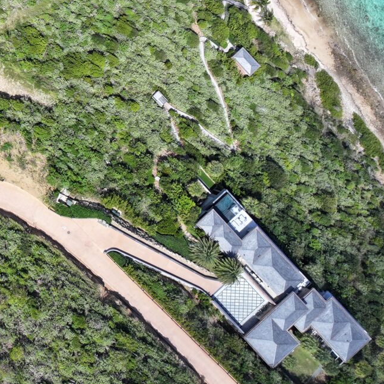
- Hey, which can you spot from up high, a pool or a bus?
pool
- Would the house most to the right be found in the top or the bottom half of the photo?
bottom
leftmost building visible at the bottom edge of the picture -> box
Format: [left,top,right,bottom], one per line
[240,292,307,367]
